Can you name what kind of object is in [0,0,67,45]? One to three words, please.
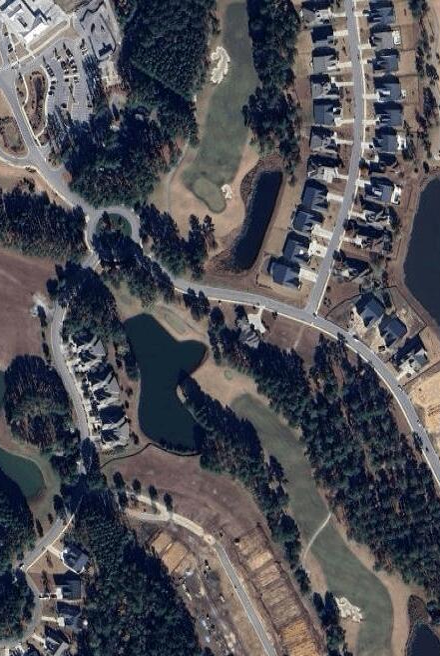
building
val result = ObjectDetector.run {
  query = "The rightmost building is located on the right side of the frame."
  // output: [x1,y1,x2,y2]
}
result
[399,336,430,368]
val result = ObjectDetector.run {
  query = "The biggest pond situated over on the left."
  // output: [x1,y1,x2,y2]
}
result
[125,313,206,456]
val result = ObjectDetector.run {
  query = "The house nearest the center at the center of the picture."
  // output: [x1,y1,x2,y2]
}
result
[234,311,262,348]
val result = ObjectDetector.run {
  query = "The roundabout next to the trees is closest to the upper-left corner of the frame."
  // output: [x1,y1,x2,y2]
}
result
[89,205,140,253]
